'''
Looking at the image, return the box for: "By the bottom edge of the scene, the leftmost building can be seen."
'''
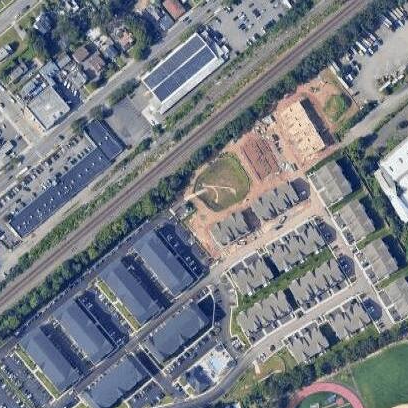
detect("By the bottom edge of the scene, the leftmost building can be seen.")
[20,326,82,394]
